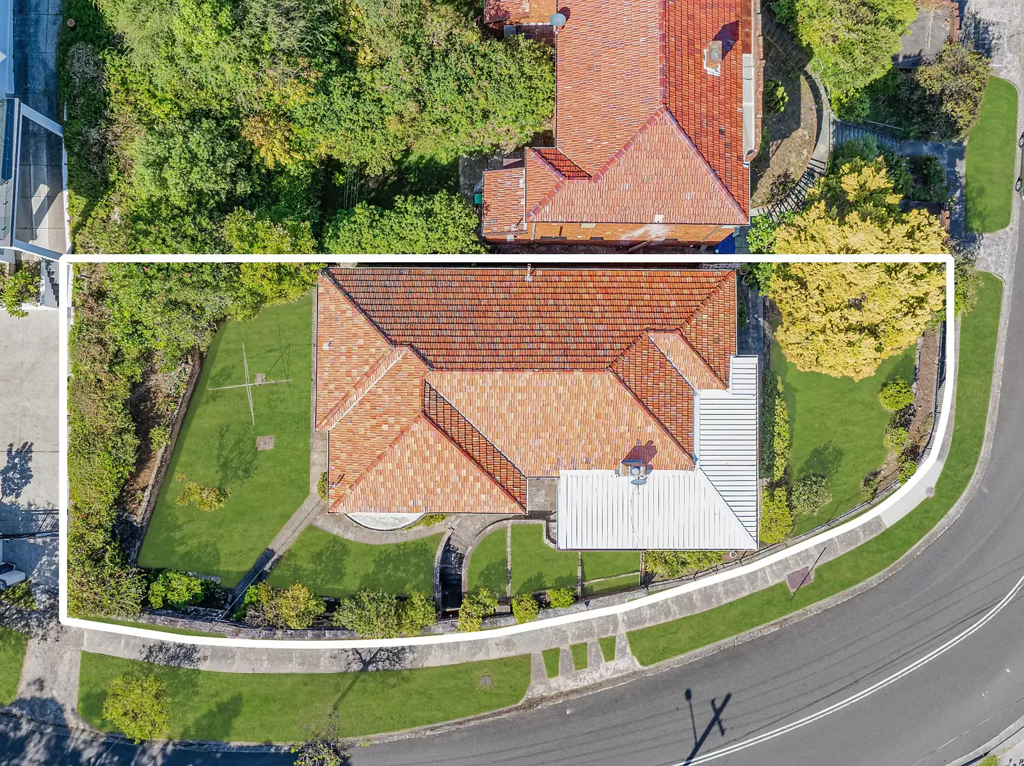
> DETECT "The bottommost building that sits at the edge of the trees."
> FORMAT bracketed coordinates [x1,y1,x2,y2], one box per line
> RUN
[313,265,760,552]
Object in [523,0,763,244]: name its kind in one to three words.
house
